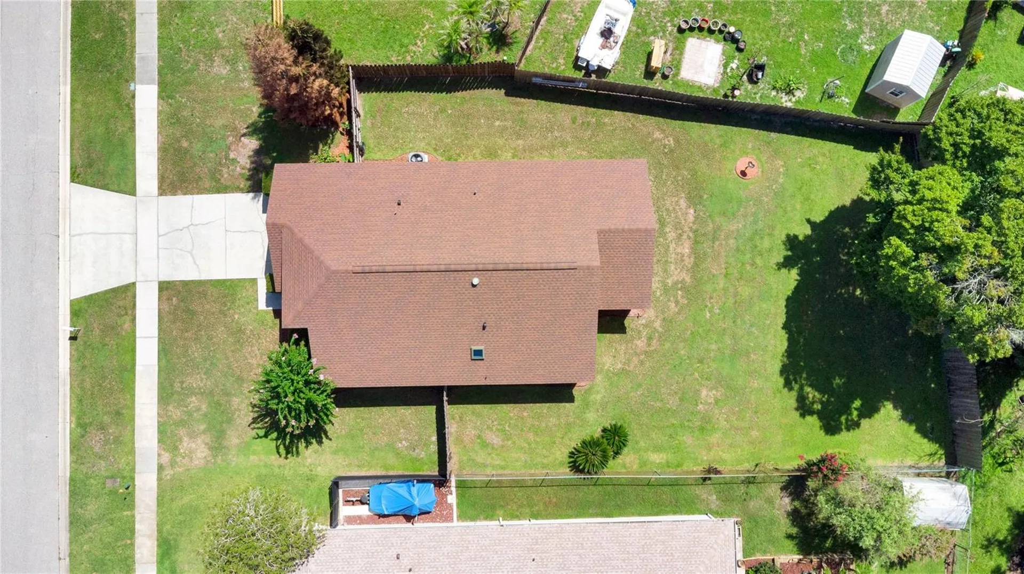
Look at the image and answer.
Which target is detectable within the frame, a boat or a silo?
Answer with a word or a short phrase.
boat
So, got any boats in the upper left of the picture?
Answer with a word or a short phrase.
No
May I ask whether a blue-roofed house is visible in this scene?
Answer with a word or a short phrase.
No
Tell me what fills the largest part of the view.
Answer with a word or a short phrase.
grass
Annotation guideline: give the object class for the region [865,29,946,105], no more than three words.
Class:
shed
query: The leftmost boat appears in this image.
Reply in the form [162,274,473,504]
[348,481,439,521]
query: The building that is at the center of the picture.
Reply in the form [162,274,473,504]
[265,159,657,388]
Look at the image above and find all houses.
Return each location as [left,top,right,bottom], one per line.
[292,515,744,574]
[265,159,657,388]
